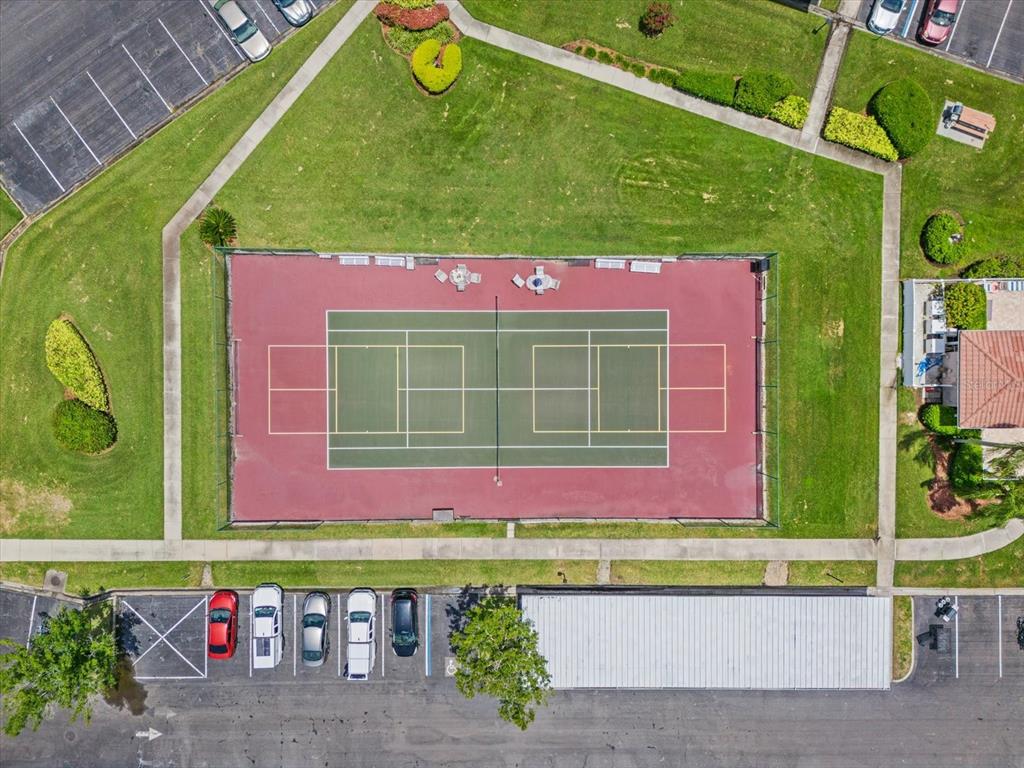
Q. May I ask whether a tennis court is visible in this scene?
Yes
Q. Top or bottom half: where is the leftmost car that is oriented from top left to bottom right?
top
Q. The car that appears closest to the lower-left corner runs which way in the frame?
up and down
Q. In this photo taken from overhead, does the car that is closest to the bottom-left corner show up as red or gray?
red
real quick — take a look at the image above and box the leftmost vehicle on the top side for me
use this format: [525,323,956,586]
[209,0,269,62]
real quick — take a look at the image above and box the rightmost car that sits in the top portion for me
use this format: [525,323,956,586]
[919,0,963,48]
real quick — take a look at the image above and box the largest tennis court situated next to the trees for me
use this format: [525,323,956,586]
[227,252,768,525]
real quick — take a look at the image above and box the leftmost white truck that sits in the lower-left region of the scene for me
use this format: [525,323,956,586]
[248,584,287,670]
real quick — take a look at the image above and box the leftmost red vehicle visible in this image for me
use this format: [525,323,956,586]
[205,590,239,659]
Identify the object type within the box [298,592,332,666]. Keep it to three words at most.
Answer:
car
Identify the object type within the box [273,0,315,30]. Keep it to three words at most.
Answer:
car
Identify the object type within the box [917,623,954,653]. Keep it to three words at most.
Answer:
trailer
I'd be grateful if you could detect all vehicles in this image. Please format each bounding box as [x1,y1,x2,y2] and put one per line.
[273,0,315,30]
[866,0,905,35]
[205,590,239,659]
[919,0,963,48]
[248,584,287,670]
[298,592,332,666]
[342,588,379,679]
[209,0,269,62]
[936,595,960,621]
[388,588,421,655]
